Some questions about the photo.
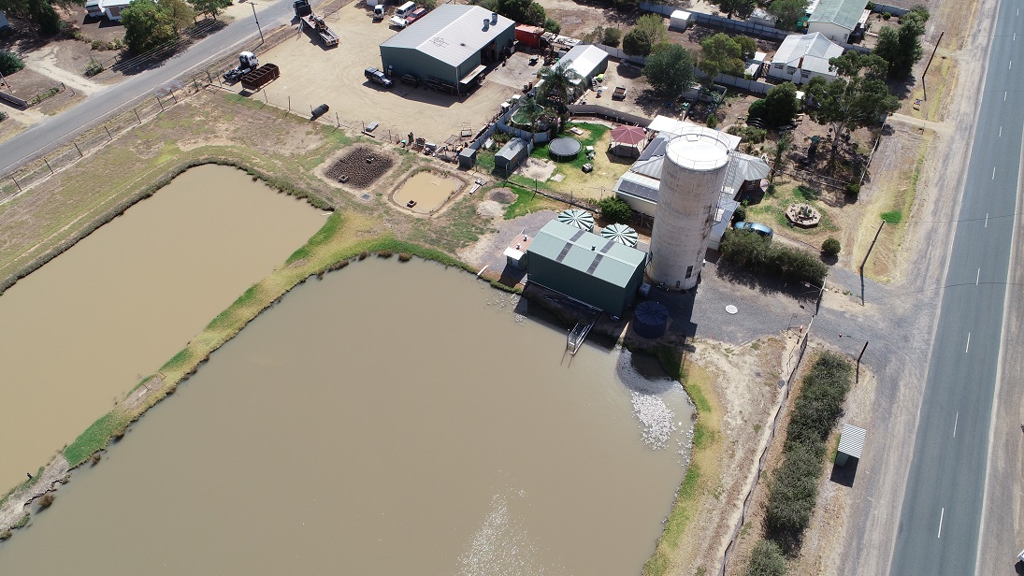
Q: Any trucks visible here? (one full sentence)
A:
Yes, you can see a truck in this photo.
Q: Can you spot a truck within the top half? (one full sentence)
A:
Yes, looking within the top half, one can make out a truck.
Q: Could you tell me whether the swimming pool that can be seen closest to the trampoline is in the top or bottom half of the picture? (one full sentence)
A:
It is in the top half that the swimming pool that can be seen closest to the trampoline appears.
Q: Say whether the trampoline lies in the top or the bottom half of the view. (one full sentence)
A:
You can find the trampoline in the top half.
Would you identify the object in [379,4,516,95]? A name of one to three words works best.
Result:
building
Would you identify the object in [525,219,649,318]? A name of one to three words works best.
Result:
shed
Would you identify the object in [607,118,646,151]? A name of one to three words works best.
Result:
gazebo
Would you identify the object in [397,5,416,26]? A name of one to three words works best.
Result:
vehicle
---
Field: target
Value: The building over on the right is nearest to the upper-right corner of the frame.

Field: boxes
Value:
[805,0,870,43]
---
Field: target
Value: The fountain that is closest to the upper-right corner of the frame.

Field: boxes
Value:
[785,206,820,229]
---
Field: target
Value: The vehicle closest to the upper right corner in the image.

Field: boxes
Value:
[735,221,775,244]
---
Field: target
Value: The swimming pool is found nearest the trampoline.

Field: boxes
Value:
[510,110,543,136]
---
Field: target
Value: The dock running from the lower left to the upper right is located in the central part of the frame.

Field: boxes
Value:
[568,323,607,360]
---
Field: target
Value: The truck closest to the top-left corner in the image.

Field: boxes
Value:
[216,53,263,86]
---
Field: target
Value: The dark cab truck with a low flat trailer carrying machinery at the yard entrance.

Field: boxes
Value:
[282,0,341,44]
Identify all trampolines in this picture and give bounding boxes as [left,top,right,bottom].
[549,138,581,160]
